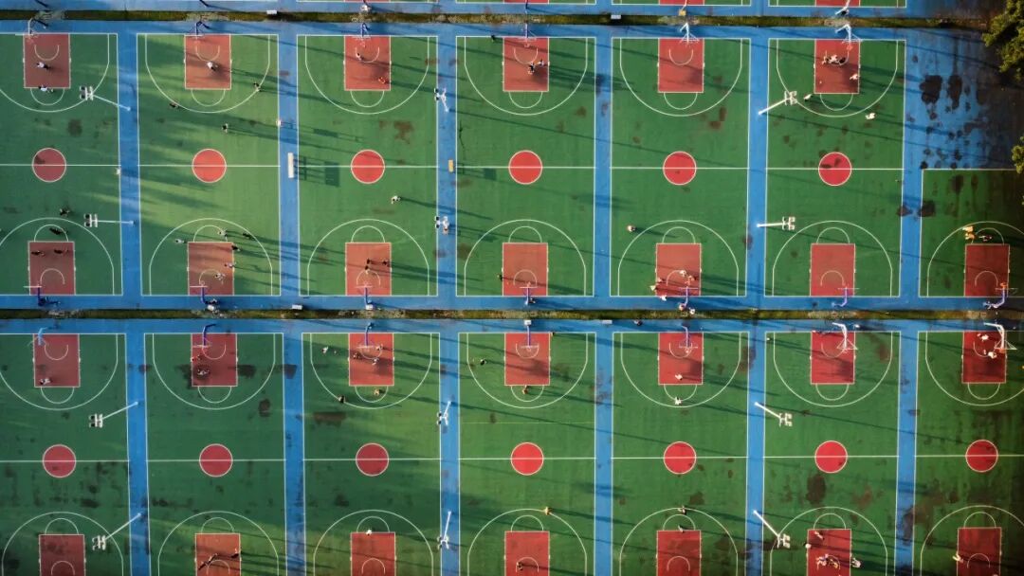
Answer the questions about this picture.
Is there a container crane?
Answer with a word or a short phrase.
No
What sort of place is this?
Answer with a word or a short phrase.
sports ground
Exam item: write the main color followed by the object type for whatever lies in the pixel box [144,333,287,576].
green basketball court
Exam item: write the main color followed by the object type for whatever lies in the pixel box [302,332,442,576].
green basketball court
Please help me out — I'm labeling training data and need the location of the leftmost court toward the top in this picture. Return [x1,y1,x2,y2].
[0,32,123,296]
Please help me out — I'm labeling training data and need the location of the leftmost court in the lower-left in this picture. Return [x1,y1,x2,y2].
[0,333,131,576]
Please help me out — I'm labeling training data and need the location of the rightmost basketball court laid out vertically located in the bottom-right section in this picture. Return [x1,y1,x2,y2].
[912,331,1024,576]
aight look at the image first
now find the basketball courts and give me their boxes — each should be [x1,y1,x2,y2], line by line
[764,38,906,297]
[297,35,438,296]
[0,333,131,576]
[456,36,596,297]
[919,169,1024,297]
[609,37,751,297]
[144,333,287,576]
[302,332,442,576]
[458,332,596,576]
[769,0,907,7]
[611,331,749,576]
[136,33,281,296]
[912,331,1024,576]
[612,0,751,6]
[762,331,901,576]
[0,32,123,296]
